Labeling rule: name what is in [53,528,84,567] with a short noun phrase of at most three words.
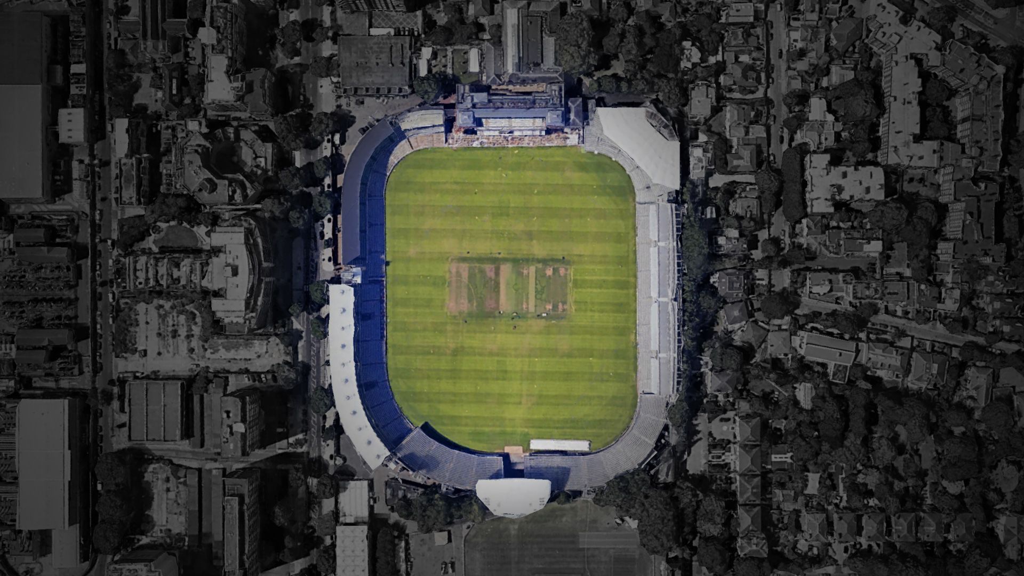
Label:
shed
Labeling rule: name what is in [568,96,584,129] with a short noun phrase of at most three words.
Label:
building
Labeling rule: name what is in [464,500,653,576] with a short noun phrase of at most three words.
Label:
sports field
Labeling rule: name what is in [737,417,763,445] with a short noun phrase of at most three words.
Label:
house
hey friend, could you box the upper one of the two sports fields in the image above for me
[386,146,638,454]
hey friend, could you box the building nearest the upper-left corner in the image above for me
[0,11,51,88]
